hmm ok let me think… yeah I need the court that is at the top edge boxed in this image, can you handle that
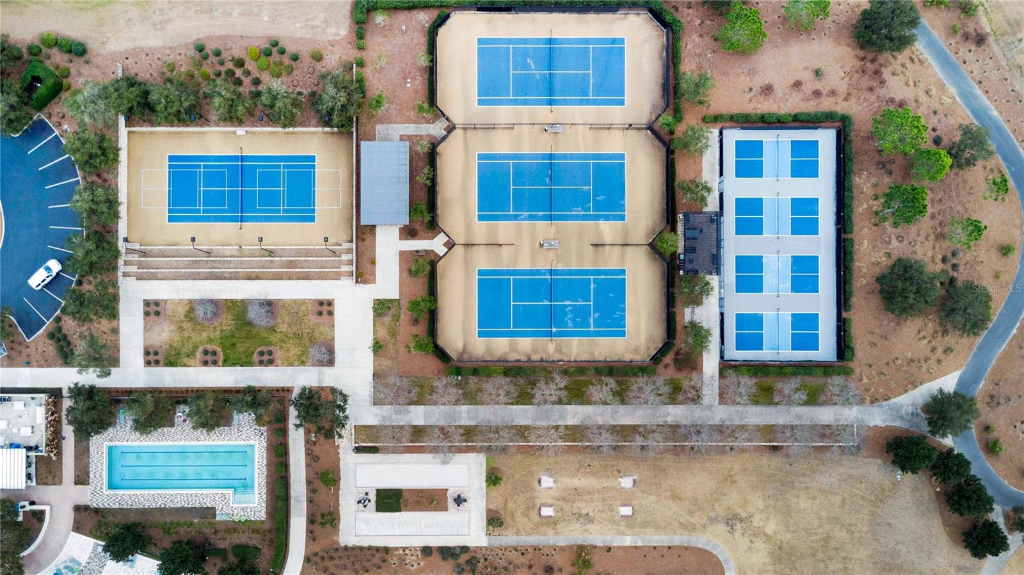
[437,13,667,126]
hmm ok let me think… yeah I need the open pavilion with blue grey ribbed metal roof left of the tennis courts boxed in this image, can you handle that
[361,140,409,226]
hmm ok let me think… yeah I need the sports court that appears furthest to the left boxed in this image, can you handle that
[132,133,353,246]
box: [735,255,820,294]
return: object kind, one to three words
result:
sports court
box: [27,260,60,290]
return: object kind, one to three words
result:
car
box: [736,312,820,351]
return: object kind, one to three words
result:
sports court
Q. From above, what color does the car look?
white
